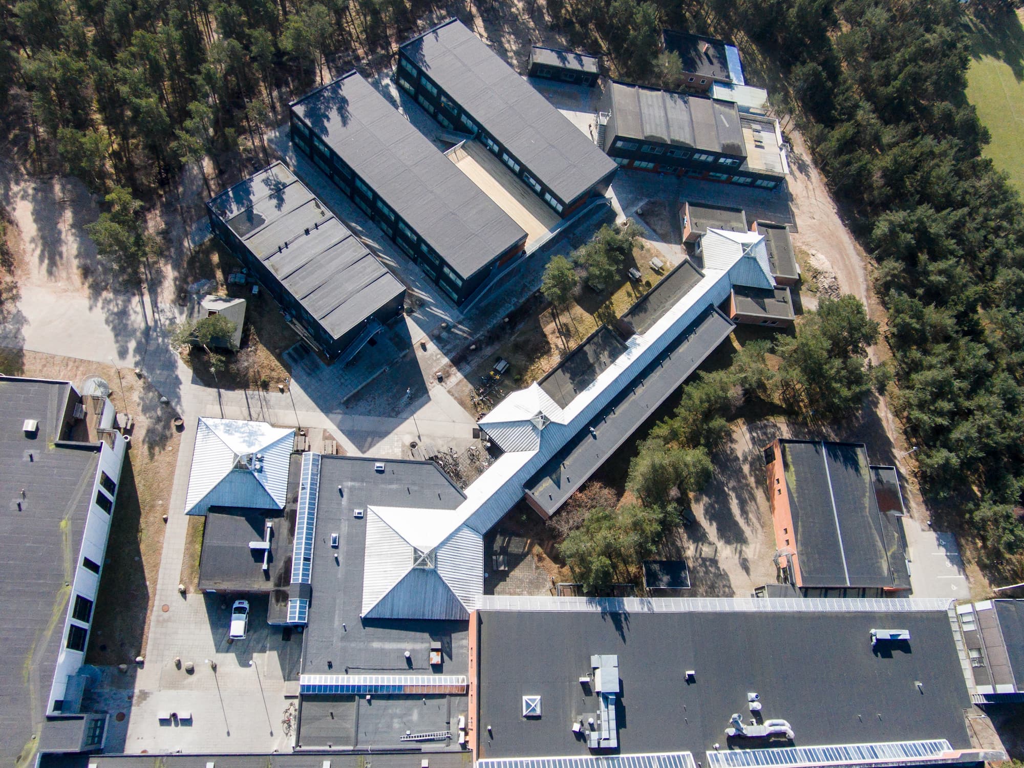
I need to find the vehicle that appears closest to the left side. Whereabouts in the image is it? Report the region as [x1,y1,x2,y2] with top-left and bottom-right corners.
[230,600,249,640]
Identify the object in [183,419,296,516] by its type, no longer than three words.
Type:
building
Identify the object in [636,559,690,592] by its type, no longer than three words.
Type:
shed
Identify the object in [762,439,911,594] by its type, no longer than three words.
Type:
building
